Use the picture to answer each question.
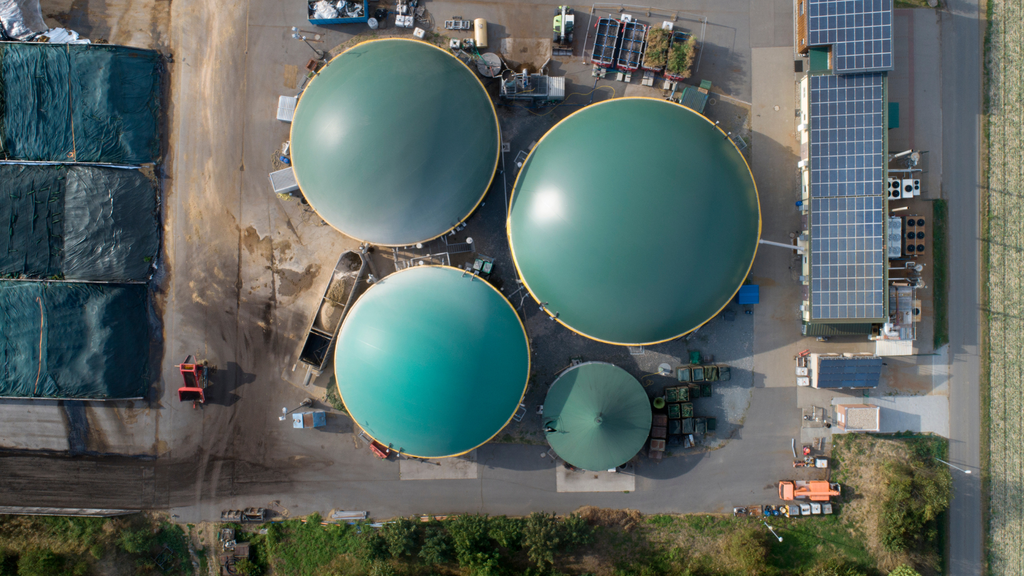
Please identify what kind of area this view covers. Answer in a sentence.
What you see here is an industrial area.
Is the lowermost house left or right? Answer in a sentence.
You can find the lowermost house on the right side of the picture.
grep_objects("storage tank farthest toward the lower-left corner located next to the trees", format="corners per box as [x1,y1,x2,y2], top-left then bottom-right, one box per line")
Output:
[334,264,531,460]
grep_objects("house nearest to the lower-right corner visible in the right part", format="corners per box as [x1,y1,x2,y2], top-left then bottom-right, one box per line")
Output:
[835,404,881,431]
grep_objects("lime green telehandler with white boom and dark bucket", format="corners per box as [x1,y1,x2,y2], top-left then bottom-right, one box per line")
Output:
[552,5,573,56]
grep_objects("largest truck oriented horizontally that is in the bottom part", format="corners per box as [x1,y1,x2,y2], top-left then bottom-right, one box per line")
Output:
[775,477,843,502]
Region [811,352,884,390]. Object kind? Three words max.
shed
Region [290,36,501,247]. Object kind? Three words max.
storage tank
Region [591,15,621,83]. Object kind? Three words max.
trailer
